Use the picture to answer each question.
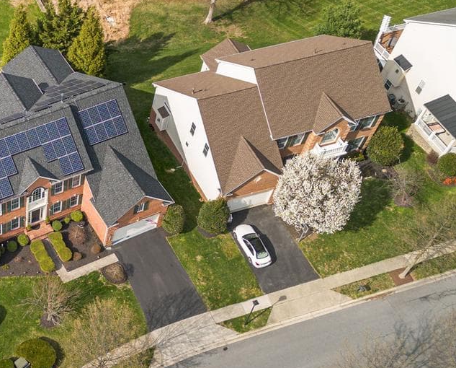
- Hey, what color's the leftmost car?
white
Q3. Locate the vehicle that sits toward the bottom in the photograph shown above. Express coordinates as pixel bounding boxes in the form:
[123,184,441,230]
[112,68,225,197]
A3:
[233,223,275,270]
